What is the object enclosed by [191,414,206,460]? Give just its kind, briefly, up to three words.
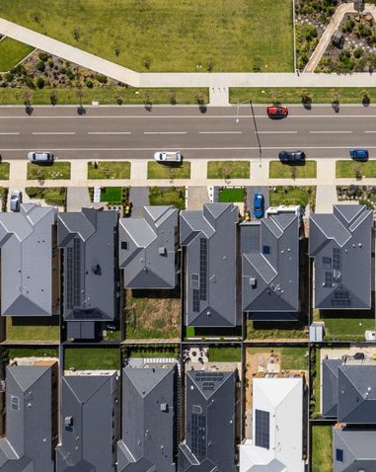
solar panel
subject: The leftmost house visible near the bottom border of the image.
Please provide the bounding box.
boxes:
[0,363,57,472]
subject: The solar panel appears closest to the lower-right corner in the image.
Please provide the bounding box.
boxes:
[256,410,269,448]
